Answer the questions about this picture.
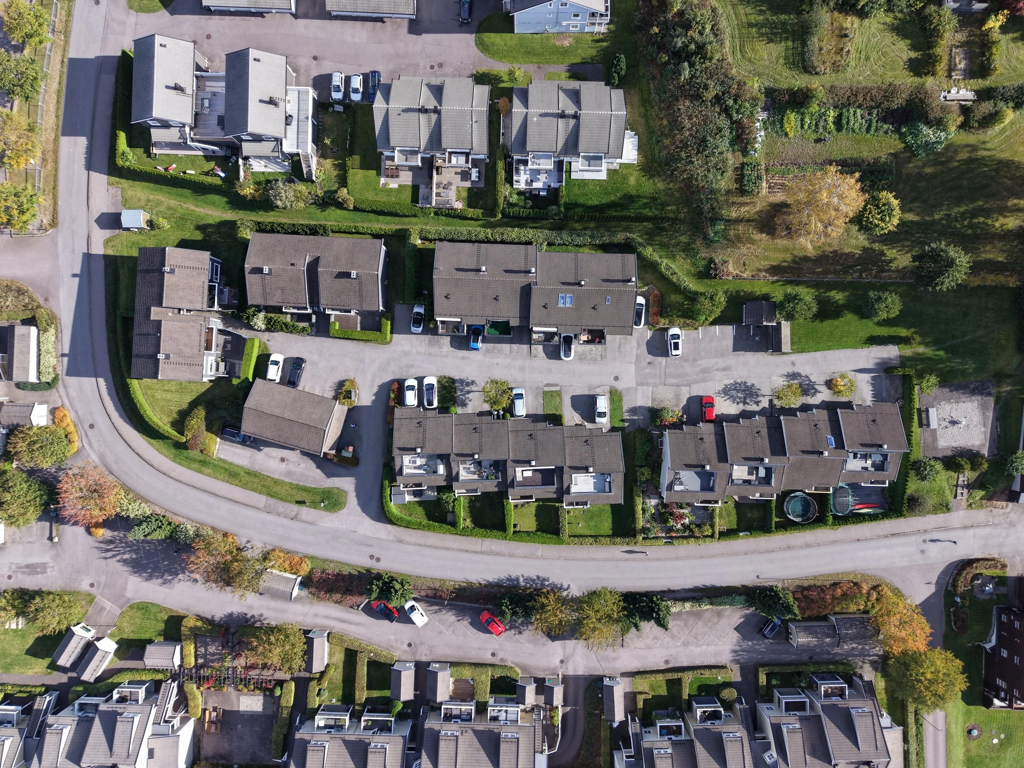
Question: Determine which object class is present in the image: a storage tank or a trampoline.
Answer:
trampoline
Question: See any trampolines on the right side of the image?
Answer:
Yes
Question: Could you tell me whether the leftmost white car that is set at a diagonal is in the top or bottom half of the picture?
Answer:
bottom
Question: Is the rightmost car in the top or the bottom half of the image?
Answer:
bottom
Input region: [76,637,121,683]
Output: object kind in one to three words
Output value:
shed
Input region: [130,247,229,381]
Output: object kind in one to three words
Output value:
house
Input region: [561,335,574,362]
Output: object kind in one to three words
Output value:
vehicle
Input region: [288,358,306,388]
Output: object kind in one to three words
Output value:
car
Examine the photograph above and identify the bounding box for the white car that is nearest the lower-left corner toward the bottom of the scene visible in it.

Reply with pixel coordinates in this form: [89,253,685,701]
[405,600,428,628]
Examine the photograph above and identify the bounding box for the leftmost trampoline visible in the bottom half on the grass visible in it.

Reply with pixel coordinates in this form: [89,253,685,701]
[785,494,817,524]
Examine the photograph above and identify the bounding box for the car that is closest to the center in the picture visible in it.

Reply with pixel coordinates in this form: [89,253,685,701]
[512,388,525,417]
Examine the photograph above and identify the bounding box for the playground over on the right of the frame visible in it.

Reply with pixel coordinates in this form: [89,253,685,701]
[918,379,997,458]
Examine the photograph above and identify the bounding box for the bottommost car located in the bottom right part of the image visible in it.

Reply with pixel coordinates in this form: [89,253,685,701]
[759,614,783,641]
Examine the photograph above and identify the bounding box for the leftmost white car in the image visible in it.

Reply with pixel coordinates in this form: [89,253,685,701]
[268,354,284,382]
